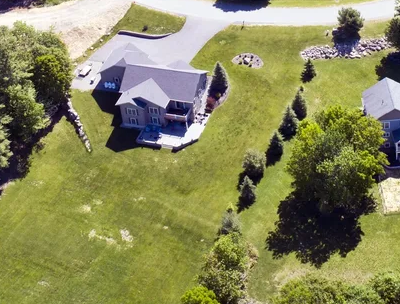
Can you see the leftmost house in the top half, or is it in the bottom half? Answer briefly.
top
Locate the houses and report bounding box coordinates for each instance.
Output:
[100,41,206,130]
[358,73,400,166]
